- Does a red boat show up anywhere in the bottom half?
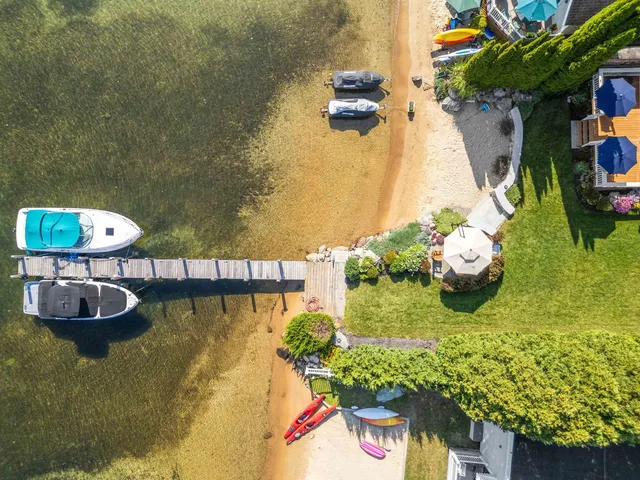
Yes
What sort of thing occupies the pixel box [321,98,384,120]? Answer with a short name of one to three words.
boat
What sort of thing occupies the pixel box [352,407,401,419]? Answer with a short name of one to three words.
boat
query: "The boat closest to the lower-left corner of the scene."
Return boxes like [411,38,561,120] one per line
[26,279,141,319]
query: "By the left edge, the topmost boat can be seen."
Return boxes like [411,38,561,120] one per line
[14,208,147,255]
